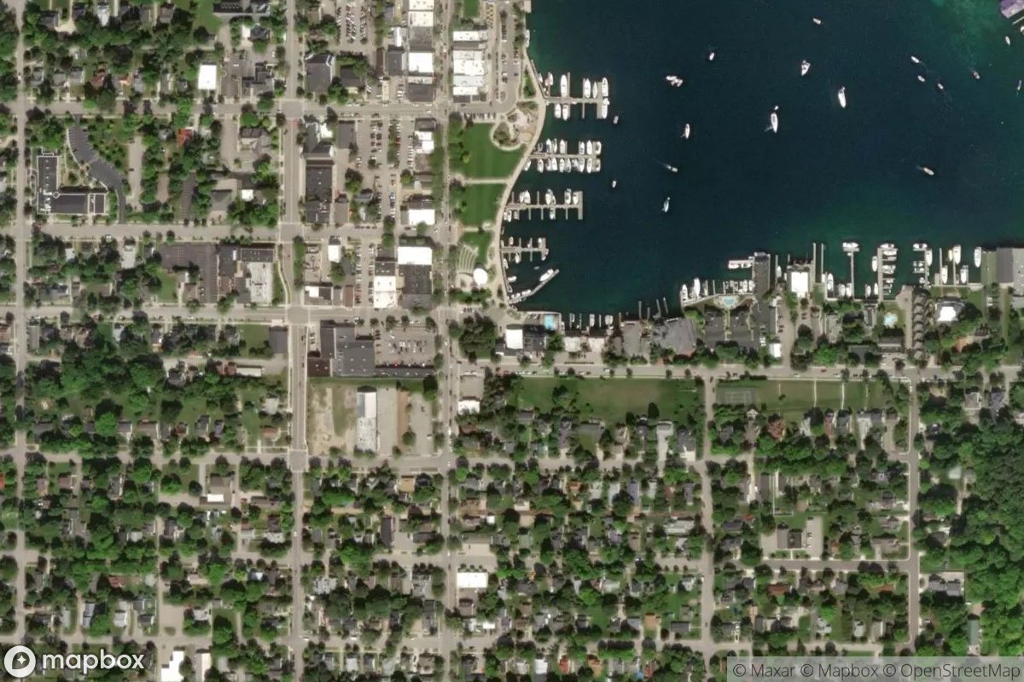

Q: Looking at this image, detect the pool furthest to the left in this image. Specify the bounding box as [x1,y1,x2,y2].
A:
[538,314,560,332]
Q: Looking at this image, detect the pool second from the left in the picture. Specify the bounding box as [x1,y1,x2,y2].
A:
[715,296,739,309]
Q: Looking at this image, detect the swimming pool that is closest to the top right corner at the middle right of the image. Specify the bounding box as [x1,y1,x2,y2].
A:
[883,312,899,328]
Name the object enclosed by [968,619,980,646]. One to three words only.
shed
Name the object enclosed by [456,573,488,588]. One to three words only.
building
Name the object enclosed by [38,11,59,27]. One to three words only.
house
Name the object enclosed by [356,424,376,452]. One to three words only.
building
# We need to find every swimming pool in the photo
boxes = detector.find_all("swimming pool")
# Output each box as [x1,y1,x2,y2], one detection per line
[883,312,899,328]
[538,314,560,332]
[715,296,739,309]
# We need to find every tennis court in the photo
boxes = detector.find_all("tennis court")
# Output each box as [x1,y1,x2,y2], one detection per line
[724,389,754,404]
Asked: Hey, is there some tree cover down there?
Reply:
Yes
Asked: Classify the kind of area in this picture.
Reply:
residential area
